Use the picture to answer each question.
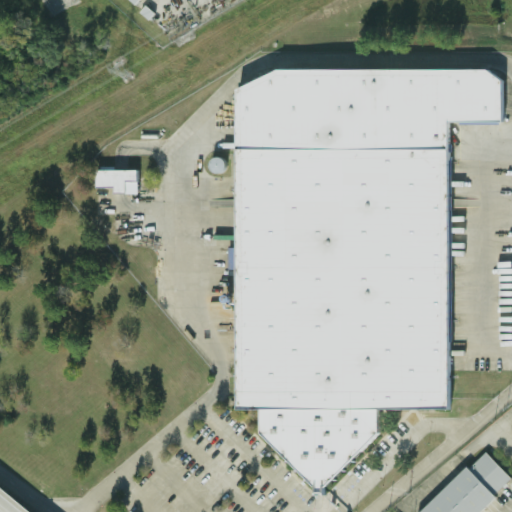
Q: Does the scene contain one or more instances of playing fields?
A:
No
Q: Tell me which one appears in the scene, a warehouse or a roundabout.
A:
warehouse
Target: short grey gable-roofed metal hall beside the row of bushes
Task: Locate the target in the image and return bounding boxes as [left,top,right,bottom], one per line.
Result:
[472,453,511,494]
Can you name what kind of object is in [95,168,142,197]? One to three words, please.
building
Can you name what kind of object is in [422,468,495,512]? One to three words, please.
building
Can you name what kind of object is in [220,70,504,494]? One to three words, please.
warehouse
